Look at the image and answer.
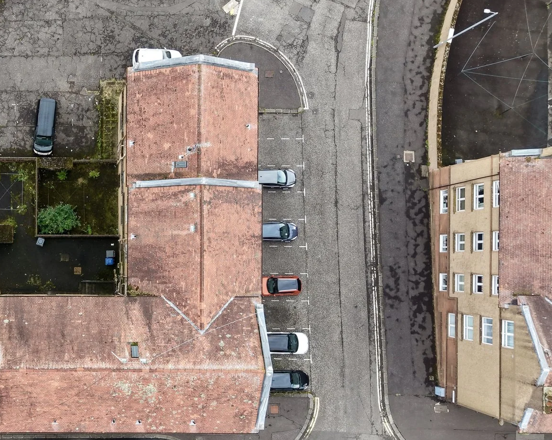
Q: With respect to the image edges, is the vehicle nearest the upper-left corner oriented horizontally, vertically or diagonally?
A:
vertically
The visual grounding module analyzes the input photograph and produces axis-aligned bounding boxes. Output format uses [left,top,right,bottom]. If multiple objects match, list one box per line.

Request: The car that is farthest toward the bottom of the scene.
[274,369,310,395]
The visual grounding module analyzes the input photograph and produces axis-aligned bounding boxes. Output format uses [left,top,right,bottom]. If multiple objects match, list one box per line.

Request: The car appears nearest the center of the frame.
[262,219,297,246]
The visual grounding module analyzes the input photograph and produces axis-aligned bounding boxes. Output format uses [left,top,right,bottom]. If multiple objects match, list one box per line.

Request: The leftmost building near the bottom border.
[0,294,277,435]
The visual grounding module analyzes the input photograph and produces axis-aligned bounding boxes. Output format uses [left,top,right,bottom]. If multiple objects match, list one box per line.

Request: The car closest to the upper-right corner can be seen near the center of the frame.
[260,165,296,191]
